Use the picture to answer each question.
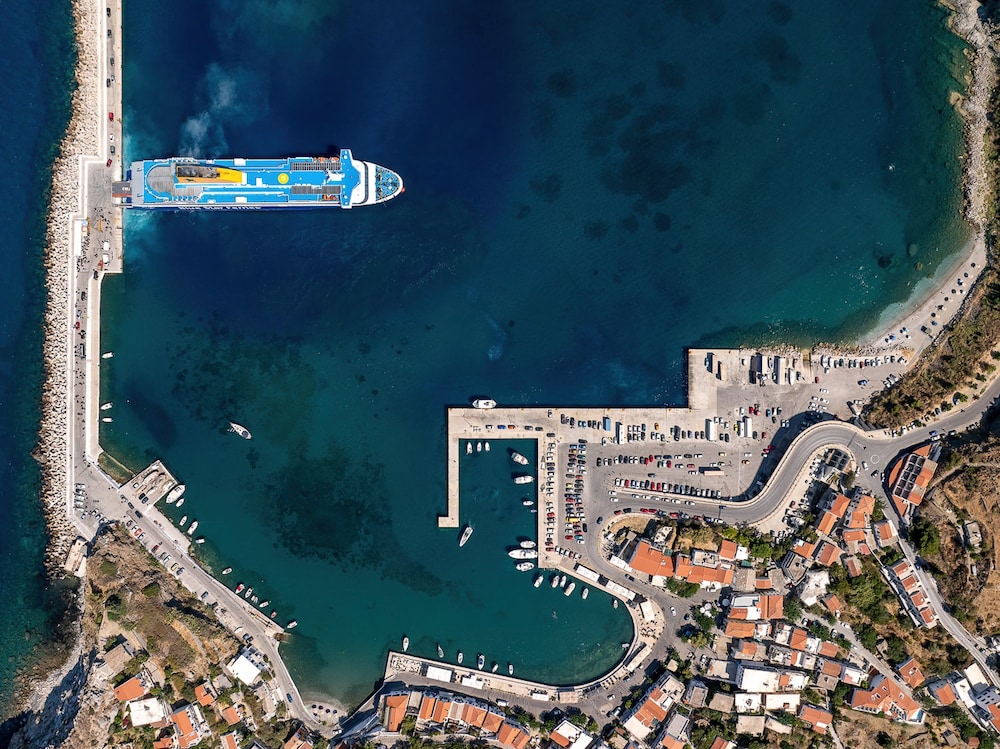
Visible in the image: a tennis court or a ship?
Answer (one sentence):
Of the two, only a ship appears.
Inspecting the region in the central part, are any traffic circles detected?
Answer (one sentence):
No, no traffic circle appears in the central part.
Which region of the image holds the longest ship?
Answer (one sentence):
You can find the longest ship in the top left area of the picture.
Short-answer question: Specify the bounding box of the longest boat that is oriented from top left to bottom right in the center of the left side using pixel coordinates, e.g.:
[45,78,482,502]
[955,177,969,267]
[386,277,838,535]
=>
[229,424,251,439]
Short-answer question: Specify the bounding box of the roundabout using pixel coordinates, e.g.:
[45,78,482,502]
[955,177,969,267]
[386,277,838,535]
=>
[852,439,896,484]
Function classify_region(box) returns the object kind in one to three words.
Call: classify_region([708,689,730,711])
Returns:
house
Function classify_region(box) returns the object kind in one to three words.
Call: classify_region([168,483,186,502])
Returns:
boat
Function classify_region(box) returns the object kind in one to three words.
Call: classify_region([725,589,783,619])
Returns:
building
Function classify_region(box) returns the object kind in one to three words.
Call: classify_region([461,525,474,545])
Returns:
boat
